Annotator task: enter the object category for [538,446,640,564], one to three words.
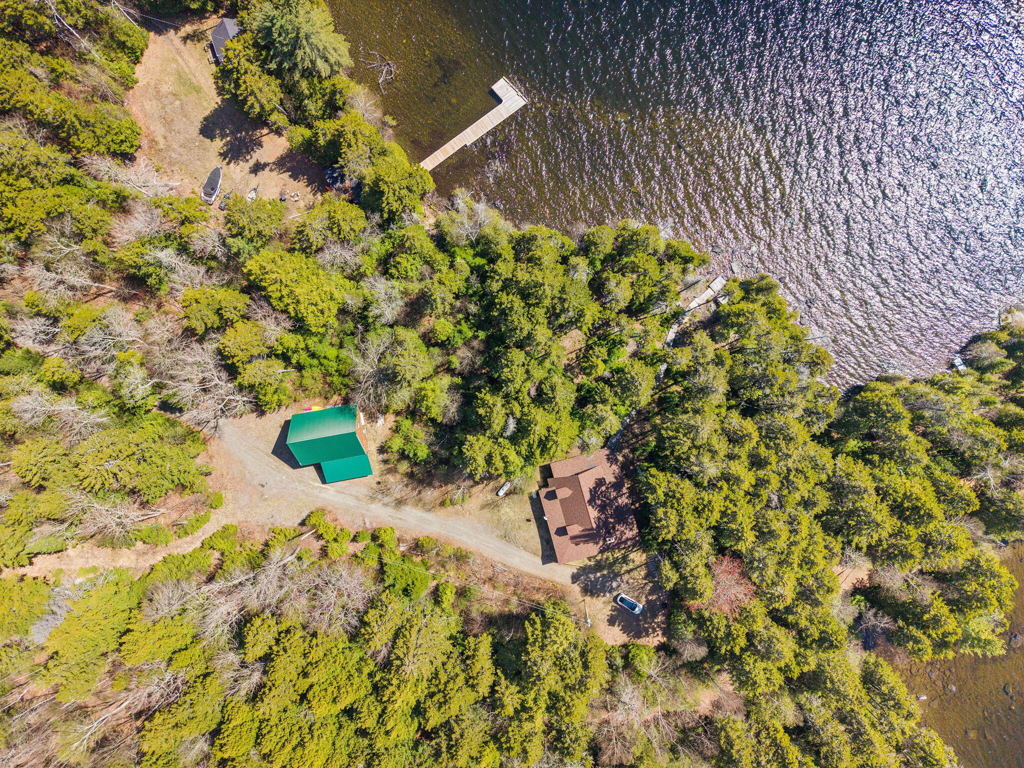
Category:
house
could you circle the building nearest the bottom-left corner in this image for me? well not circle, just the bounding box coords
[285,402,373,483]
